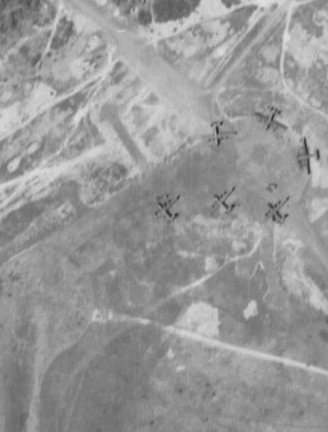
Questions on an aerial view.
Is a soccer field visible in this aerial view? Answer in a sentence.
No, I can't see a single soccer field in this photo.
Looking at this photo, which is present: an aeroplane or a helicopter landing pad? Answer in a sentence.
Of the two, only an aeroplane appears.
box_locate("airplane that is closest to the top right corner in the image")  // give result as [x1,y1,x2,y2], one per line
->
[254,109,286,131]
